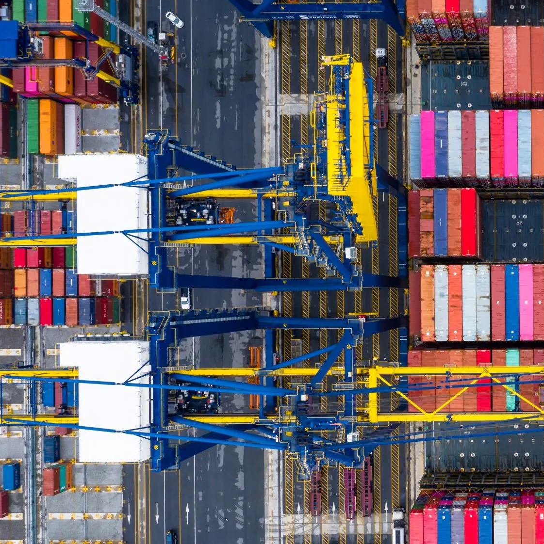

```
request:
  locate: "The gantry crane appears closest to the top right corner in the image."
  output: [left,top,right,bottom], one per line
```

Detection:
[218,0,407,71]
